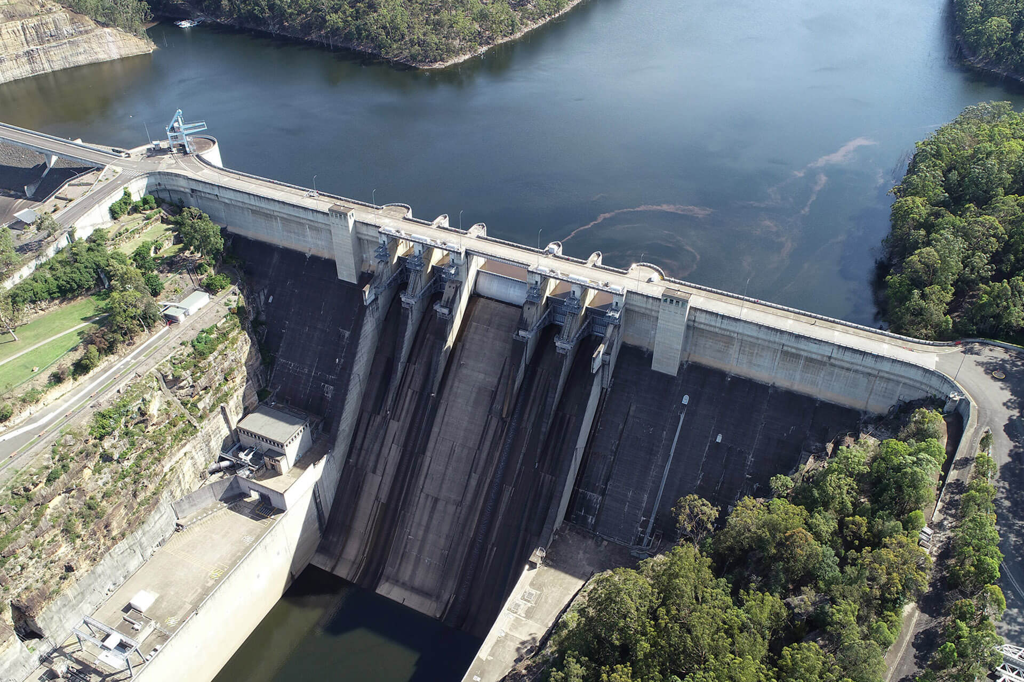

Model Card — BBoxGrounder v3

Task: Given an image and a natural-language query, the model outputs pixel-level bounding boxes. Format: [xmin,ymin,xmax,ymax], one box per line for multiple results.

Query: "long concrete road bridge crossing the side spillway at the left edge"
[0,122,125,191]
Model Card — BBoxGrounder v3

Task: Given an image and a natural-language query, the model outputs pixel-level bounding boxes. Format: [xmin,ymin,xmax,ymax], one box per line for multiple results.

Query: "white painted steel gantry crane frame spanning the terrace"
[67,611,143,674]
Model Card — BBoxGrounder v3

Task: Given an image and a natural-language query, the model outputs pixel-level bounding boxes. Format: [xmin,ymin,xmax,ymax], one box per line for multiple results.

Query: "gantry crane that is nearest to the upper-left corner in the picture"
[162,105,218,155]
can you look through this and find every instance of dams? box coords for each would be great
[114,134,980,635]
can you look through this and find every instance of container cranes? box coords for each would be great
[67,611,143,674]
[162,105,218,155]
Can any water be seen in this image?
Yes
